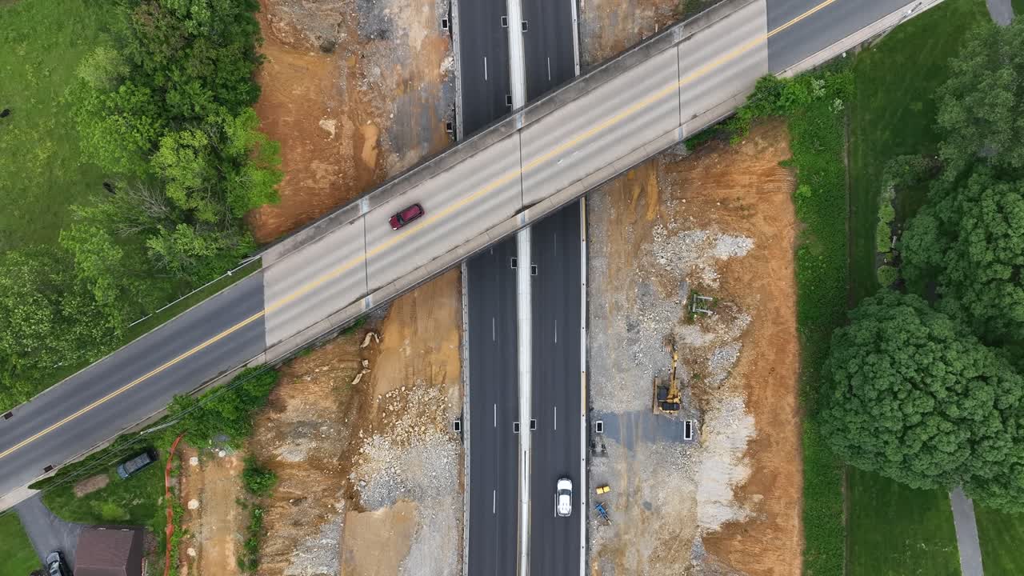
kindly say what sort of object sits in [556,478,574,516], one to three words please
car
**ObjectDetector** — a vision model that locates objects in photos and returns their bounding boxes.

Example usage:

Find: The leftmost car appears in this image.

[46,549,71,576]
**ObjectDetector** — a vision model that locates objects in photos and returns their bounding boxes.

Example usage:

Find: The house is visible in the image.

[66,527,144,576]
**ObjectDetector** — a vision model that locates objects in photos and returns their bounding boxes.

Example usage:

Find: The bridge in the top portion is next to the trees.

[261,0,766,366]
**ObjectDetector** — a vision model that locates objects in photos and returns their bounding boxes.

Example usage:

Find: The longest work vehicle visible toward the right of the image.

[655,343,682,412]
